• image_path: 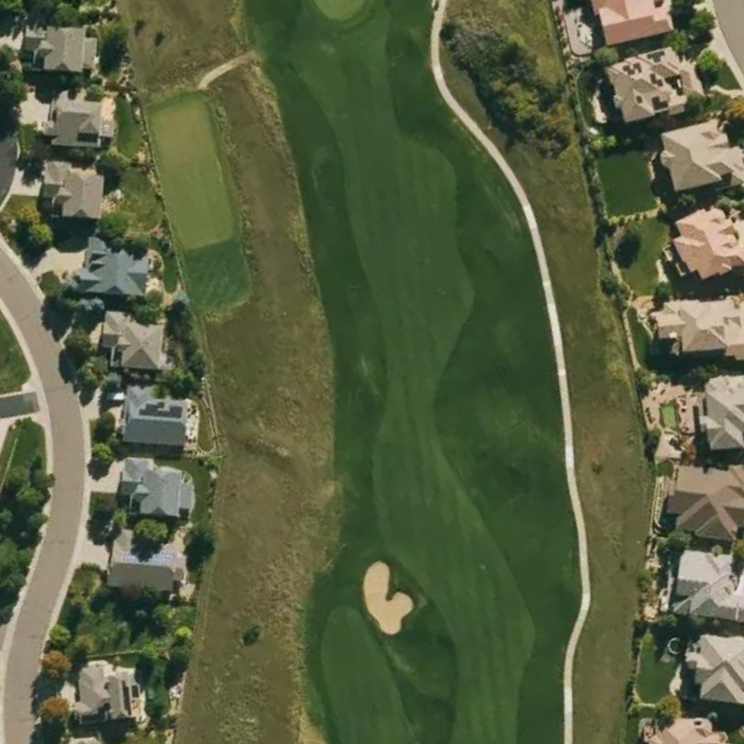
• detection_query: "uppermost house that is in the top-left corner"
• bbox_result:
[24,26,96,71]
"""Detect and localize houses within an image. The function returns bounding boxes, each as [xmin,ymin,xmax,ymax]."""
[43,90,102,146]
[593,0,675,44]
[24,26,96,71]
[74,662,137,720]
[121,384,186,445]
[120,457,195,517]
[654,298,744,360]
[700,374,744,451]
[668,464,744,538]
[71,233,150,299]
[662,118,744,190]
[608,48,706,123]
[102,311,163,370]
[690,636,744,708]
[676,205,744,282]
[649,718,726,744]
[671,550,744,624]
[43,161,104,218]
[106,529,187,592]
